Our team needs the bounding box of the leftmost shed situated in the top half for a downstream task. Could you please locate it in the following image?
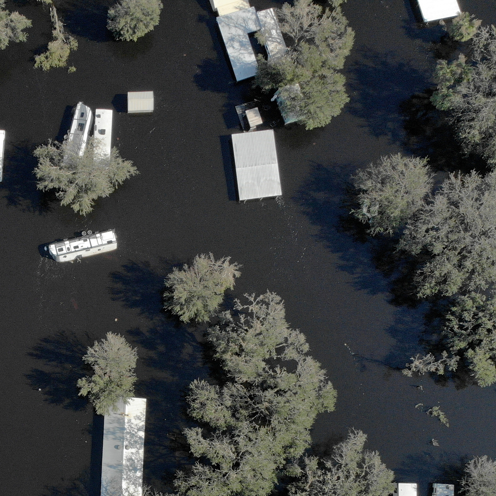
[128,92,154,114]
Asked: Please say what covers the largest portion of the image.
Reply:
water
